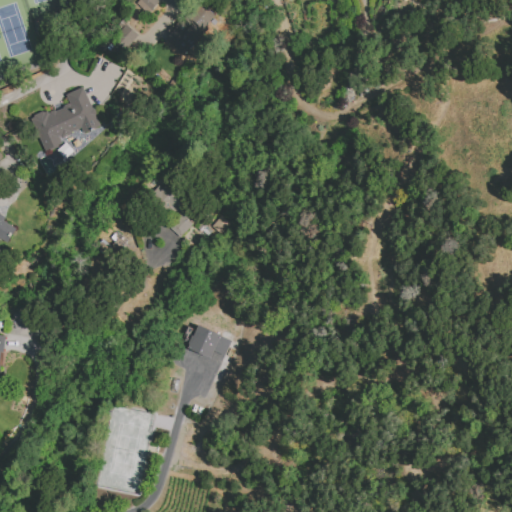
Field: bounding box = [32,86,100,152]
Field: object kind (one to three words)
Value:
house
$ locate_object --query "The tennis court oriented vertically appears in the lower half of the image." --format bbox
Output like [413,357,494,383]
[98,408,152,496]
